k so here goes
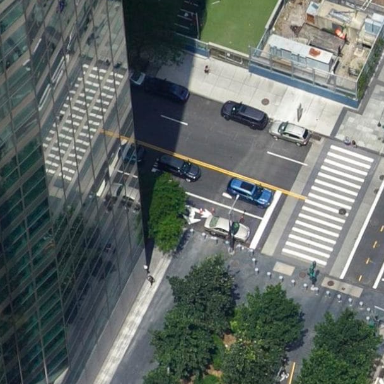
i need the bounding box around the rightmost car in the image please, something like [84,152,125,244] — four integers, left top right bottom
[269,123,312,149]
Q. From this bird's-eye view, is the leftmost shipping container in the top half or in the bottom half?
top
